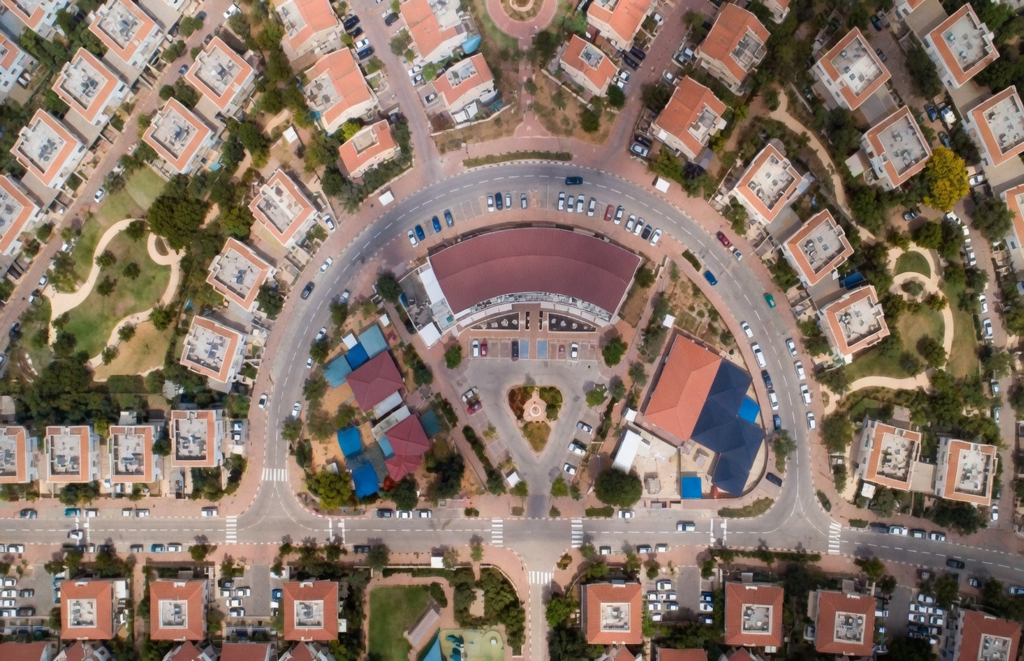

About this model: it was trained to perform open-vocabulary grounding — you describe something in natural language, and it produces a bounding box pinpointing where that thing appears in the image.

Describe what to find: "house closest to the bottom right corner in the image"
[942,607,1021,661]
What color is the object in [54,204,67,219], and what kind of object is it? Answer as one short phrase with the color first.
white vehicle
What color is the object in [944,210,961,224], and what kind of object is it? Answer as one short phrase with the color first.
white car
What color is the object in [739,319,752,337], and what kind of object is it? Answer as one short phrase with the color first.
white vehicle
